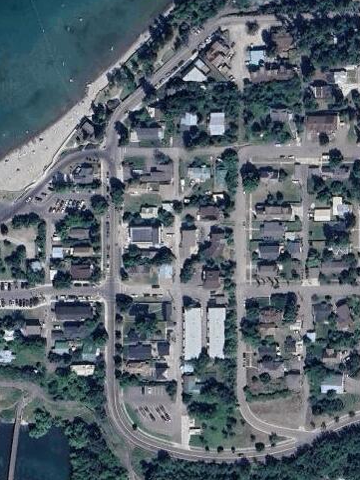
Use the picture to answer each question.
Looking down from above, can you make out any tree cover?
Yes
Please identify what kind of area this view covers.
residential area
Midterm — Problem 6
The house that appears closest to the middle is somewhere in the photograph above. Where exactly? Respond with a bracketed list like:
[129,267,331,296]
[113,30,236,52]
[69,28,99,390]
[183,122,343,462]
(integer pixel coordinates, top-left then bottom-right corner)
[181,224,199,257]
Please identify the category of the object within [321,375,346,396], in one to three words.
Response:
house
